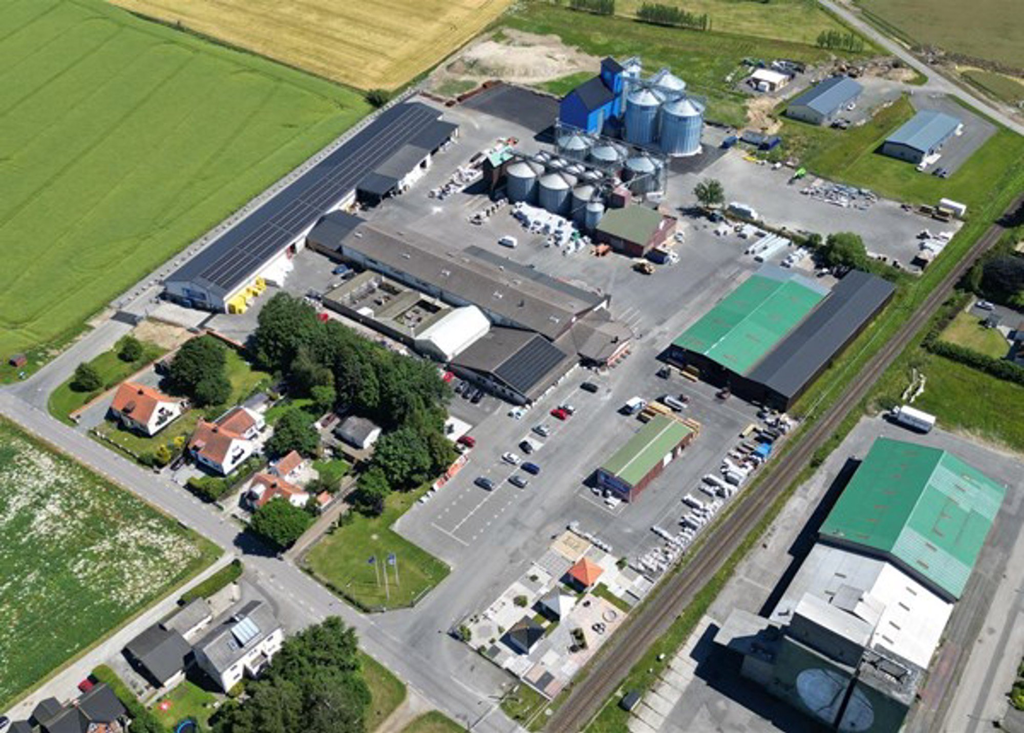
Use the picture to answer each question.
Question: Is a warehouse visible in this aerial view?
Yes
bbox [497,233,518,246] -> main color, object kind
white vehicle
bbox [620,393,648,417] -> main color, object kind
white truck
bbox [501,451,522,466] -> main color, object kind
white car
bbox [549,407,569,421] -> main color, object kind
red car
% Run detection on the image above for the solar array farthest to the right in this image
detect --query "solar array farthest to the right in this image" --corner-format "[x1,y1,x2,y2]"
[489,336,564,391]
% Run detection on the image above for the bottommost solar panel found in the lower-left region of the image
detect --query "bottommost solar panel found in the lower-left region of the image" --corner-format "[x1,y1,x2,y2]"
[233,620,260,646]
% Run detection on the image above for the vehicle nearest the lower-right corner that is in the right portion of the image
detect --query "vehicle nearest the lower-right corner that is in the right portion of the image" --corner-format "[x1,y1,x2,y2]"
[889,404,941,435]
